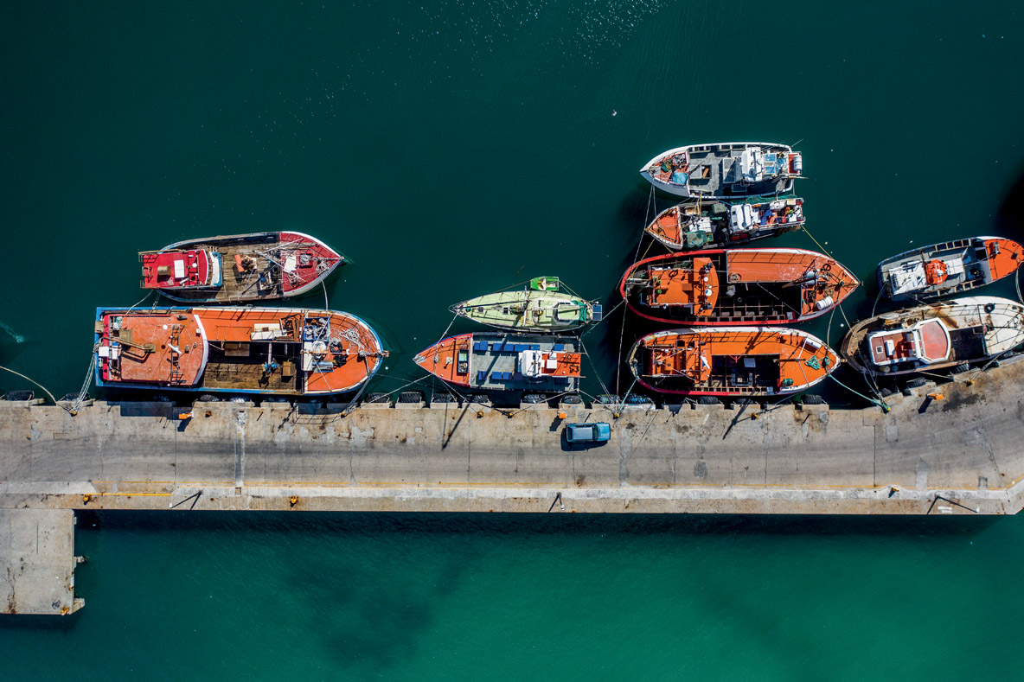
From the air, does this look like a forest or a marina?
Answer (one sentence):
The area seen from above is a marina.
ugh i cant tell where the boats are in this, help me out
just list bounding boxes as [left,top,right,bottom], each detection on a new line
[95,306,394,396]
[138,230,350,303]
[636,139,809,200]
[413,331,586,394]
[530,276,559,291]
[870,235,1024,301]
[448,279,602,333]
[626,325,847,397]
[829,295,1024,376]
[617,246,865,327]
[643,192,810,250]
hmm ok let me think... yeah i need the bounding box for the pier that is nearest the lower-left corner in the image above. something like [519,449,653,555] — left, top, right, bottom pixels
[0,509,88,614]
